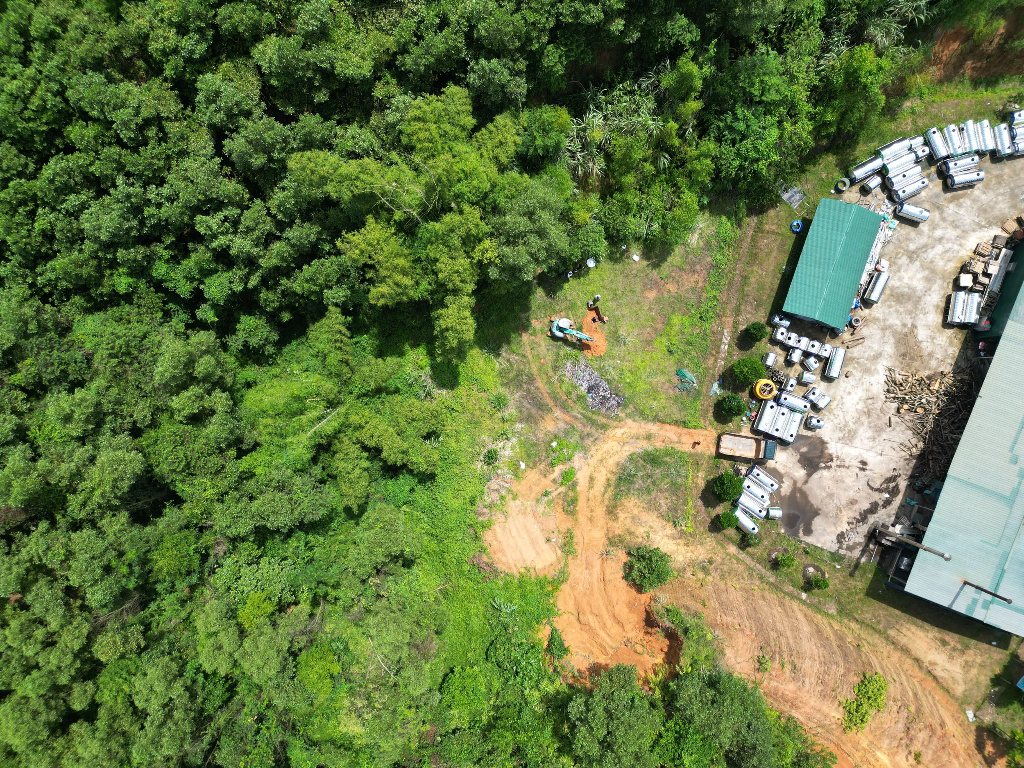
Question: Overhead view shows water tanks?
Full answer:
Yes, the frame does contain a water tank.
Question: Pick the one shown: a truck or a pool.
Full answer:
The one in the frame is a truck.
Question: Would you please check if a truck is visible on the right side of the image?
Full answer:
Yes, looking on the right side of the image, one can make out a truck.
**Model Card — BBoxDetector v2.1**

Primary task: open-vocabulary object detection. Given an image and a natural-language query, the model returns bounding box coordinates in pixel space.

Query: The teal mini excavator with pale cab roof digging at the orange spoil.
[544,314,601,353]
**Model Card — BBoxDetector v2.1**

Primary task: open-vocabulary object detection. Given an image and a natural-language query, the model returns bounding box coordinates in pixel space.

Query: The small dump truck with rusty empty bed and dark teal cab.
[715,431,775,464]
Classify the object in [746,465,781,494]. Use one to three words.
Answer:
water tank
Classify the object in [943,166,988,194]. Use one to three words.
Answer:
water tank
